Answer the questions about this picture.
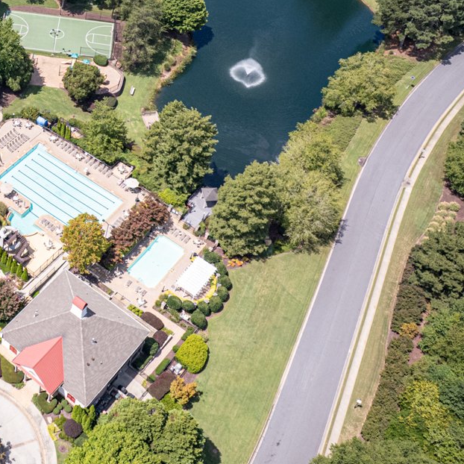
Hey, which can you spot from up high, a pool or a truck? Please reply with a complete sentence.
The one in the frame is a pool.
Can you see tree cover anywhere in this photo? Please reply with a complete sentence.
Yes, tree cover shows up in the scene.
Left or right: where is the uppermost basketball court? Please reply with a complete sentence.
The uppermost basketball court sits on the left side.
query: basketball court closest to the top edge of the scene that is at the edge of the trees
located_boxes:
[0,7,118,61]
